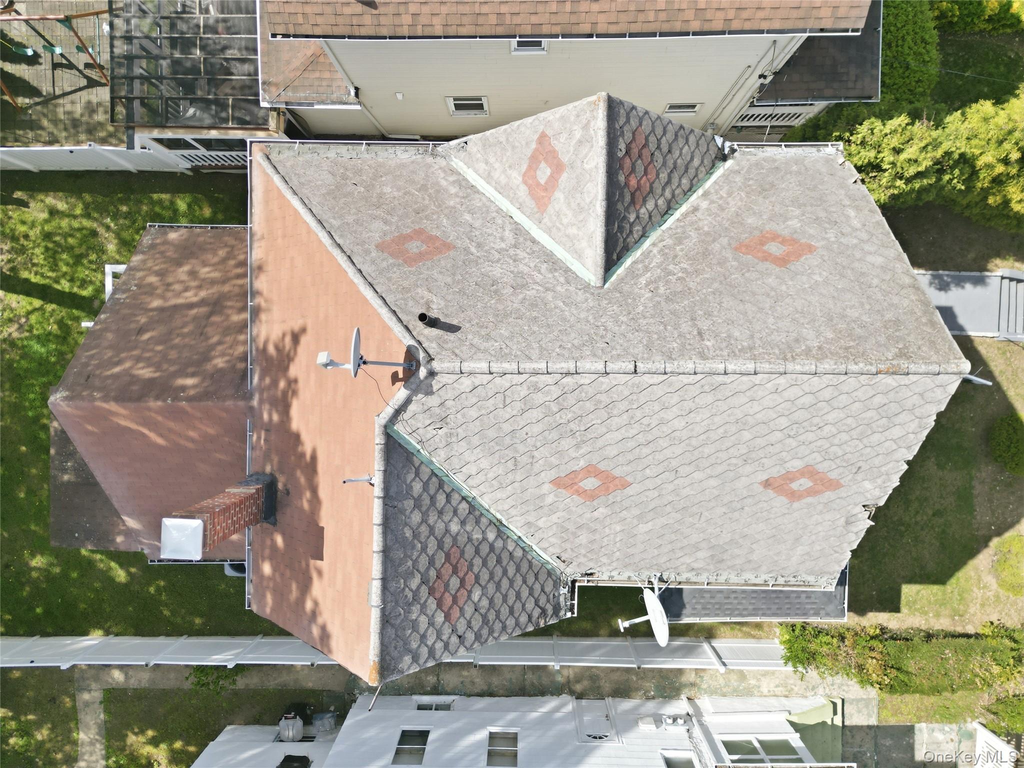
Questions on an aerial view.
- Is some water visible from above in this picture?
No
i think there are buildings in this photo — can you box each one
[189,694,853,768]
[49,89,973,686]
